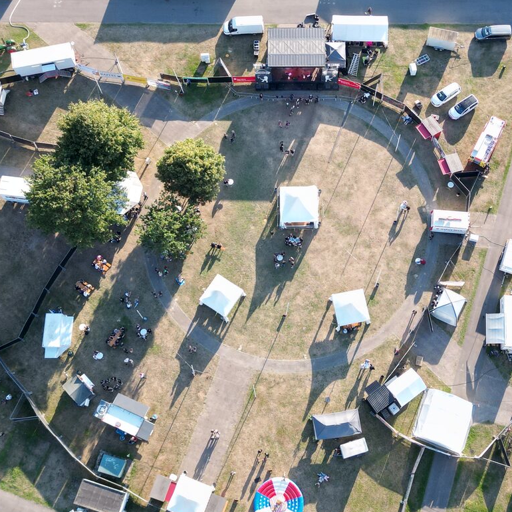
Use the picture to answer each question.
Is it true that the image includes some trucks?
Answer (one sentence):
Yes, the photo shows a truck.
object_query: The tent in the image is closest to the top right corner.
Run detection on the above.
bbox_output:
[332,15,389,50]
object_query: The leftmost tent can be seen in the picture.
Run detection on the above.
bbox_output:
[42,313,79,359]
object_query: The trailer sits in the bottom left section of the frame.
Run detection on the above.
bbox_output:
[91,388,160,443]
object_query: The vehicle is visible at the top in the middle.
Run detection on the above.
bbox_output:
[222,12,265,34]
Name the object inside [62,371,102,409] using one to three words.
tent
